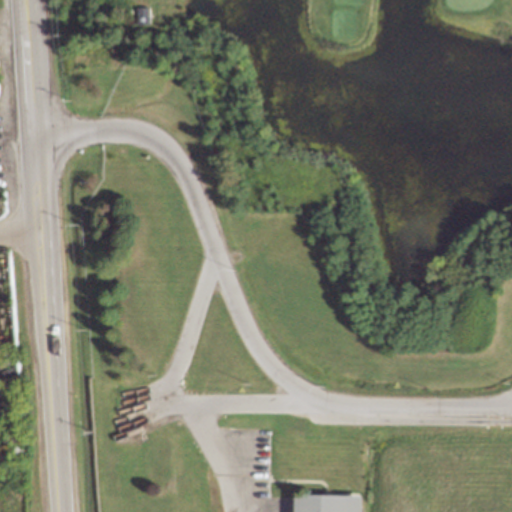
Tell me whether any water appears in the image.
Yes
